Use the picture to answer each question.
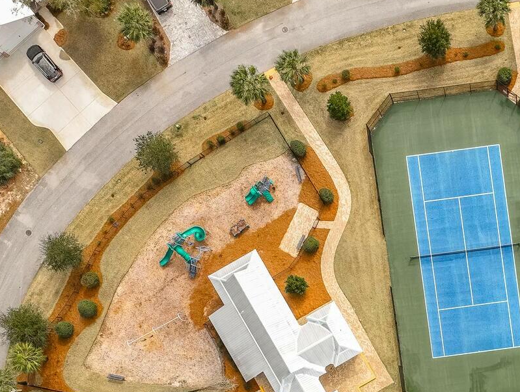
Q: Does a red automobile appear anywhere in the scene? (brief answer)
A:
No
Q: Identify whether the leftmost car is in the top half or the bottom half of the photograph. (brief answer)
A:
top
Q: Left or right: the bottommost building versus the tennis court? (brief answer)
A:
left of it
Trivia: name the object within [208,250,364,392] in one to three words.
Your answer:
building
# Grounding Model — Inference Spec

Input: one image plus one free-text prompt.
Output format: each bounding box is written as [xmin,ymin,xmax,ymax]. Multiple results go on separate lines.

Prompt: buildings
[208,250,364,392]
[0,0,46,60]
